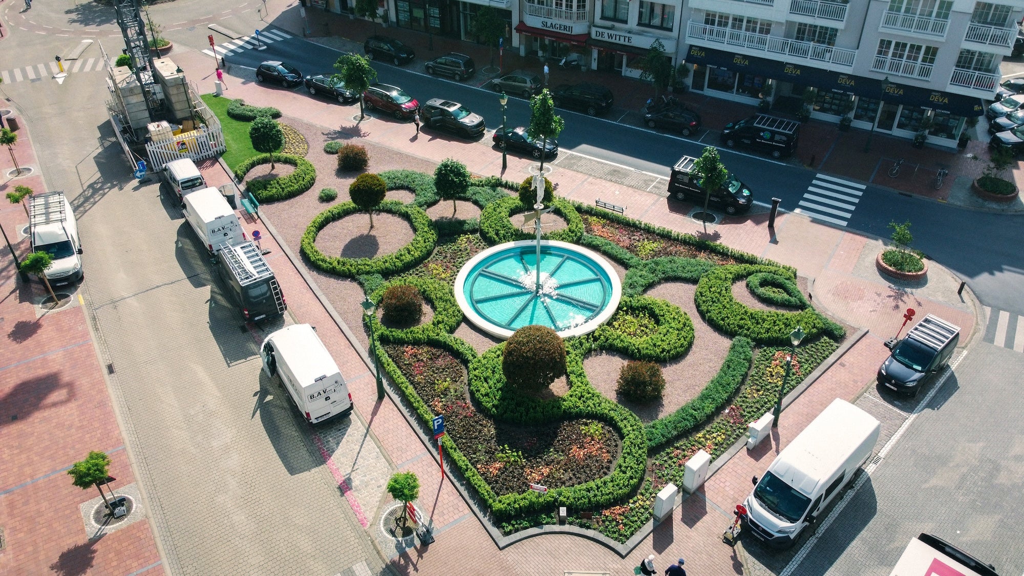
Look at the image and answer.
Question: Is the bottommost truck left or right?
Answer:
right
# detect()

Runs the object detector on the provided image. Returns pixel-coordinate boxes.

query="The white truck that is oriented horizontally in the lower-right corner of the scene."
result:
[881,530,993,576]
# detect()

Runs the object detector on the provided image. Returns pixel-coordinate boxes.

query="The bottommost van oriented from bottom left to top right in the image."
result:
[742,402,873,554]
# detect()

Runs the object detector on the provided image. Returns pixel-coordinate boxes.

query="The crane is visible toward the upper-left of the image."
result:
[108,0,200,128]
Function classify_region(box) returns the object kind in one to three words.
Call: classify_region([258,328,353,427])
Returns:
van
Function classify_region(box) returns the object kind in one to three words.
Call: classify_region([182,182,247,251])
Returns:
van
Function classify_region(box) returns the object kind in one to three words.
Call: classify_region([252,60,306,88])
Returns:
car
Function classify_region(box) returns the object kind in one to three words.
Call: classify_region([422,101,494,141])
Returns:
car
